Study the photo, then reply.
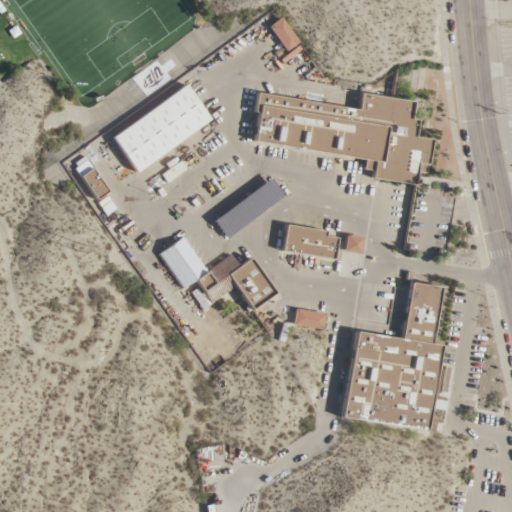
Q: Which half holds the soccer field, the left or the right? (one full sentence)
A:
You can find the soccer field on the left side of the picture.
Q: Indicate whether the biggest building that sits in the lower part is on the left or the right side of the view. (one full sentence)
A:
The biggest building that sits in the lower part is on the right side of the image.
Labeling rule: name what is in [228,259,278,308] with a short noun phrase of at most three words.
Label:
building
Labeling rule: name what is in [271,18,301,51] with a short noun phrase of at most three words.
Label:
house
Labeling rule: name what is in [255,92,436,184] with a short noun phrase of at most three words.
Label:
building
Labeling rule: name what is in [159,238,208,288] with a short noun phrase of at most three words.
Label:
shed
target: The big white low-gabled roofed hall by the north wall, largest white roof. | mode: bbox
[112,85,213,172]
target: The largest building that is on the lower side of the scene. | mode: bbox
[342,271,445,428]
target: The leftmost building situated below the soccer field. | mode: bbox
[82,170,110,199]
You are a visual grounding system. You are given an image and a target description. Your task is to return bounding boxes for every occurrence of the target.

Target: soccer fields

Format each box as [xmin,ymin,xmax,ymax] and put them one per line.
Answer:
[6,0,196,108]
